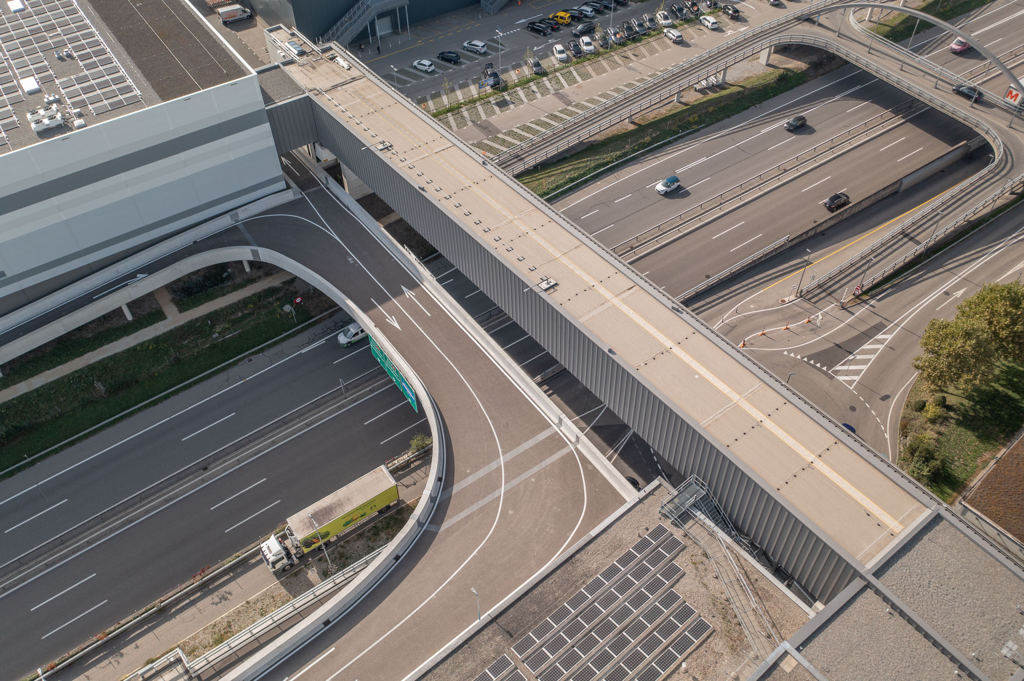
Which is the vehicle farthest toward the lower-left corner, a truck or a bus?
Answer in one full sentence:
From above, the vehicle farthest toward the lower-left corner can be identified as a truck.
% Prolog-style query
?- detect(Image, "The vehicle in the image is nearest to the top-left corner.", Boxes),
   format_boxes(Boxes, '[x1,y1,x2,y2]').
[219,6,253,26]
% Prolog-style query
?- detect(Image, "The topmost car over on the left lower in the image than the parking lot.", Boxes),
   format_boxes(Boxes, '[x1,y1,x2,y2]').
[333,323,368,349]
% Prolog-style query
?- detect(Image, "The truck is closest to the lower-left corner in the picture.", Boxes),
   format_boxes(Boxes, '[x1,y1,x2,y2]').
[253,466,398,580]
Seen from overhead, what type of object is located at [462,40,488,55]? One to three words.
car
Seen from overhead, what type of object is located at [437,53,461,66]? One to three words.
vehicle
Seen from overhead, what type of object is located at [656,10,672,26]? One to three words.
car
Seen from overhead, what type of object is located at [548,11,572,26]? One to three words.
vehicle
